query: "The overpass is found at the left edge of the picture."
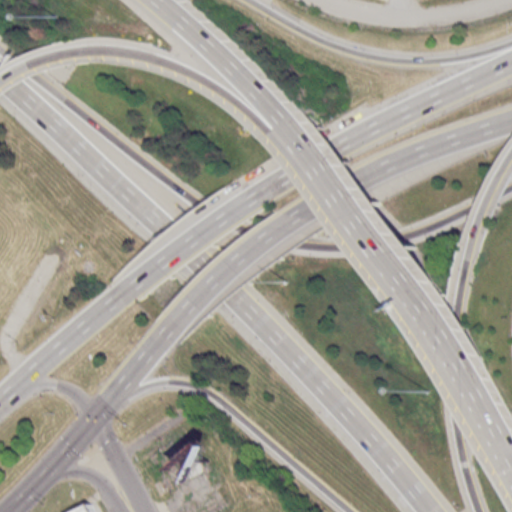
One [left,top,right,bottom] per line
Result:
[0,48,47,96]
